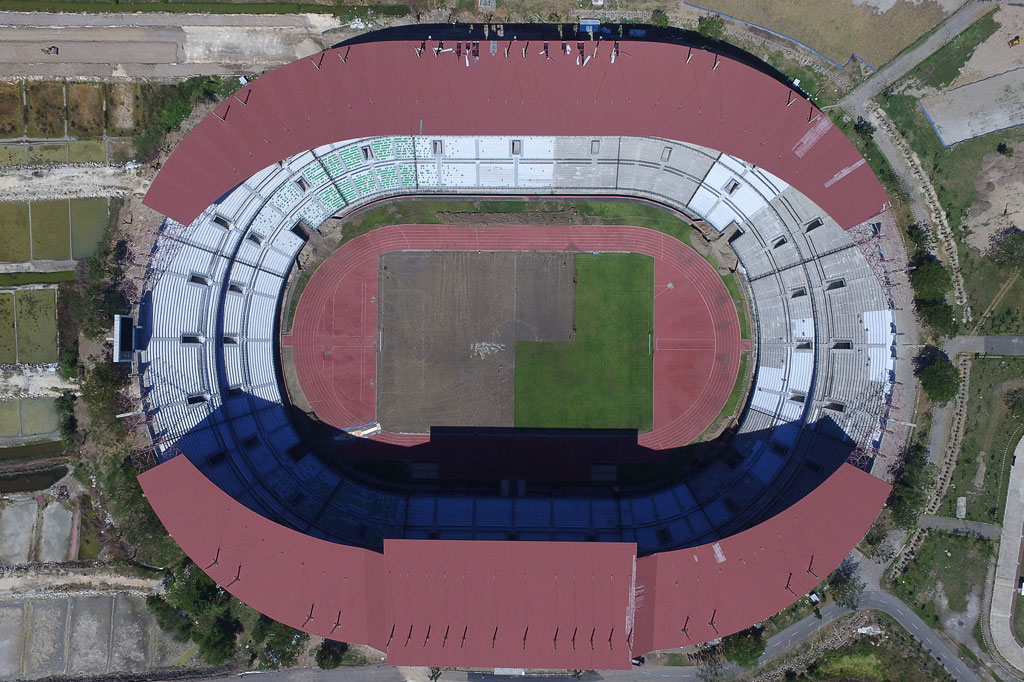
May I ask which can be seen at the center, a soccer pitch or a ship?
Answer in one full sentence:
You can see a soccer pitch at the center.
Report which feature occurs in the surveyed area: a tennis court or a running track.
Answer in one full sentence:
This aerial view contains a running track.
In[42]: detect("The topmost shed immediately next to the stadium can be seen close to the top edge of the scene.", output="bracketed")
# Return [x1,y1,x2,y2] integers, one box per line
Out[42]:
[580,18,600,36]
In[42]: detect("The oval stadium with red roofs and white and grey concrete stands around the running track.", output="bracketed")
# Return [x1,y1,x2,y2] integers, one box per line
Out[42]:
[112,41,920,669]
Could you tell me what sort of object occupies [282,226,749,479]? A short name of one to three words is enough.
running track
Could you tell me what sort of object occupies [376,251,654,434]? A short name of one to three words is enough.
soccer field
